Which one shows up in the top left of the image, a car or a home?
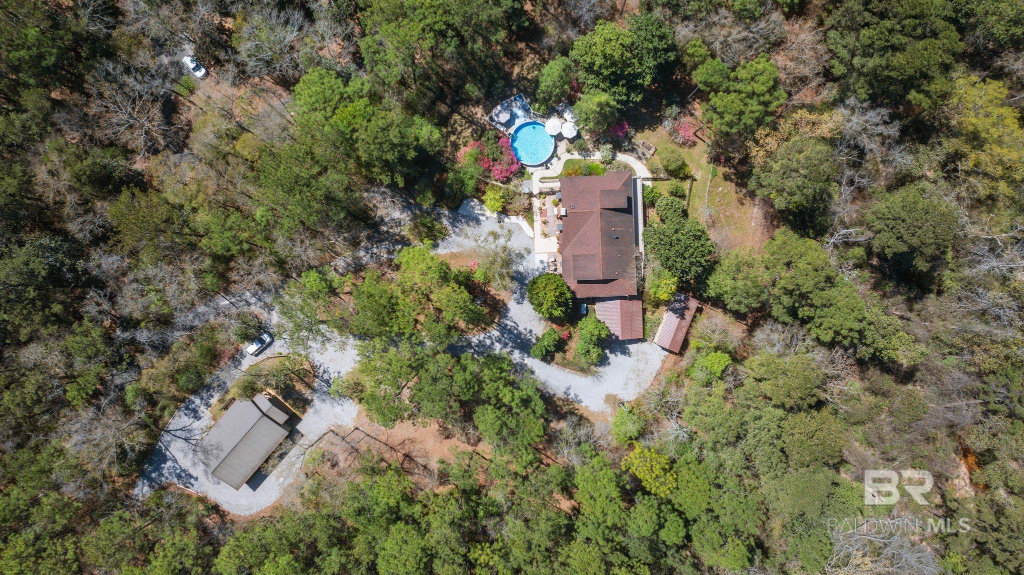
car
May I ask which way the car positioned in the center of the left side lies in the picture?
at an angle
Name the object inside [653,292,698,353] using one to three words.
shed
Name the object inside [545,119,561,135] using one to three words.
umbrella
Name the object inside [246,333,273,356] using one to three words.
car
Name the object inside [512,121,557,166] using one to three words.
swimming pool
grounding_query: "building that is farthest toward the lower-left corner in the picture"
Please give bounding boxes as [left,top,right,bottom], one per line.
[193,393,291,491]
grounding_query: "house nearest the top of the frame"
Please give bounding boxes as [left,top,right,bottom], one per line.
[555,171,637,298]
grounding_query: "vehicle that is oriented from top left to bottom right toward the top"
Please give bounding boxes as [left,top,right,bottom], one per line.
[182,55,207,79]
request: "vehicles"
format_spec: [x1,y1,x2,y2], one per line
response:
[246,333,273,356]
[182,55,207,79]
